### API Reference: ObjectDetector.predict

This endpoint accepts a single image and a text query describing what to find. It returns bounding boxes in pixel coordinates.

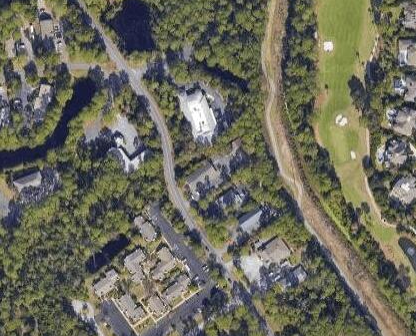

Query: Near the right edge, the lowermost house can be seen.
[390,175,416,206]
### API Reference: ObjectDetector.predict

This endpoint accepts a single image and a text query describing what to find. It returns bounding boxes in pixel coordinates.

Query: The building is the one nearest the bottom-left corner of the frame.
[92,269,121,298]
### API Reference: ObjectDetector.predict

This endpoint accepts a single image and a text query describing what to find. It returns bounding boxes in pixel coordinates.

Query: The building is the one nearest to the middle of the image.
[185,159,223,194]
